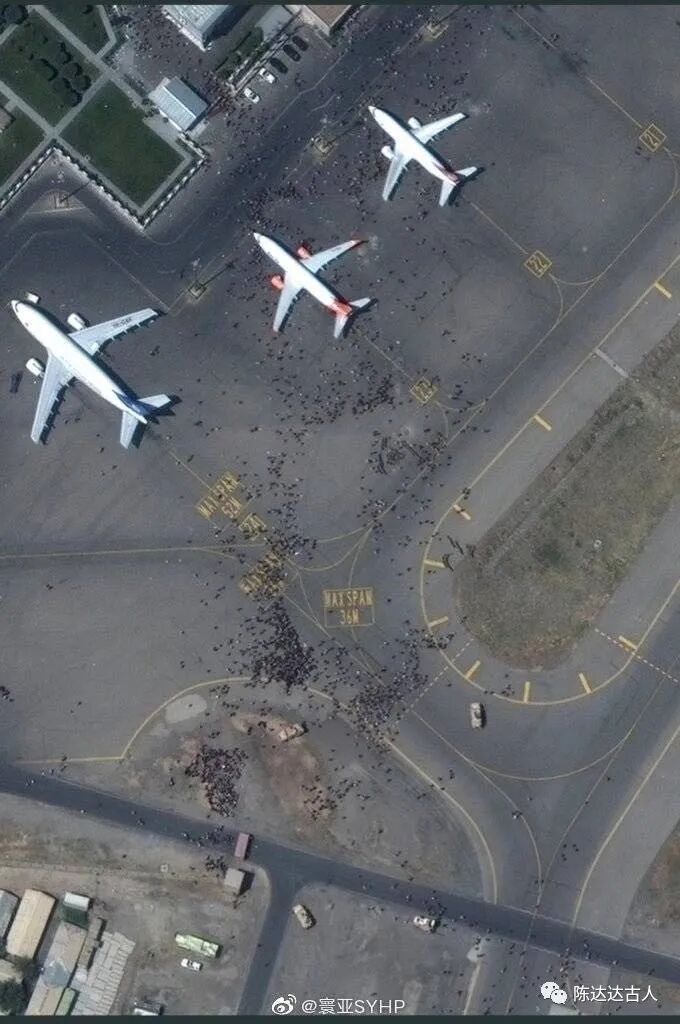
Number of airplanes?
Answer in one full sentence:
The count of airplanes comes to 3.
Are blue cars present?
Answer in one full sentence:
No, I find no blue car anywhere in the image.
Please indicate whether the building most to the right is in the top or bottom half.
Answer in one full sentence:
It is in the top half that the building most to the right appears.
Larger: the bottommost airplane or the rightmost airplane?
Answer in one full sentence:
The bottommost airplane is larger than the rightmost airplane.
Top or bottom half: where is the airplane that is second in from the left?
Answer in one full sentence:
The airplane that is second in from the left sits in the top half of the picture.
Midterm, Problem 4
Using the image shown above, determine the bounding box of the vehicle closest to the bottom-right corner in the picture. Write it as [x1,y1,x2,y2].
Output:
[412,916,437,931]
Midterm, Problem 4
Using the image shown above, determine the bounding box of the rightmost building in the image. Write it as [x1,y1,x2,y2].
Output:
[305,0,365,35]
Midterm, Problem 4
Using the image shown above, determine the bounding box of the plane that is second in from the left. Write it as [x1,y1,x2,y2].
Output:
[254,234,372,337]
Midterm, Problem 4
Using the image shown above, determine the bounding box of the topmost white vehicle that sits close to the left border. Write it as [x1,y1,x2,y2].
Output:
[23,292,40,305]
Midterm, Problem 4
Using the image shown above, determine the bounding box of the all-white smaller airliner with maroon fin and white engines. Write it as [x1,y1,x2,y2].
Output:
[368,106,480,207]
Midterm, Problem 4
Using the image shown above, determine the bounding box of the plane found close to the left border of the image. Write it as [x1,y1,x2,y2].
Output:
[12,300,170,449]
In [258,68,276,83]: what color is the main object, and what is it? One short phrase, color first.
white car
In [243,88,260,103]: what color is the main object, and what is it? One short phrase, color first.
white car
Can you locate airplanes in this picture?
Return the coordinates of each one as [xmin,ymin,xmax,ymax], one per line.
[254,234,372,337]
[368,106,480,207]
[12,300,170,449]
